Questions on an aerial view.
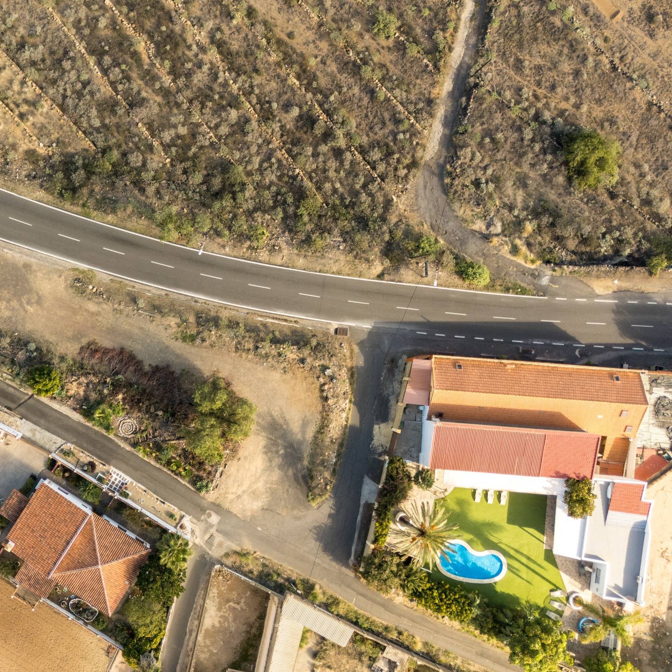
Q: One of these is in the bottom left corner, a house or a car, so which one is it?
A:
house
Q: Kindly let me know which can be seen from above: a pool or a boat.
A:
pool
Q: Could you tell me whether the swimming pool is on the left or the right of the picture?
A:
right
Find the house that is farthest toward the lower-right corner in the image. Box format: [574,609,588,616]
[578,473,654,607]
